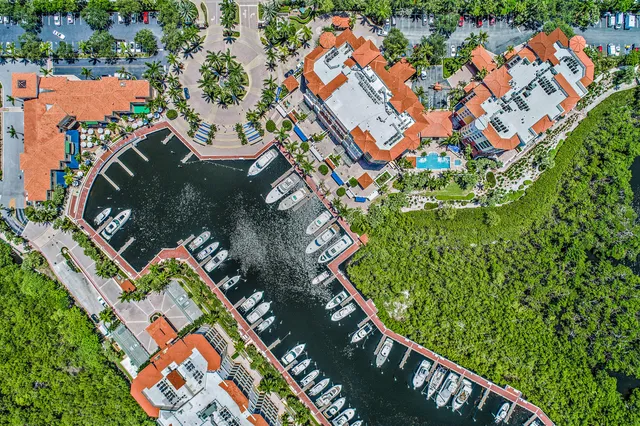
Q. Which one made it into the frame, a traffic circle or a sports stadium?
traffic circle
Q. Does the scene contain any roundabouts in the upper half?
Yes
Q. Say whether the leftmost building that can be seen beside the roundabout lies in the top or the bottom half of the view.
top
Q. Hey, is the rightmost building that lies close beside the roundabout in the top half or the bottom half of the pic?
top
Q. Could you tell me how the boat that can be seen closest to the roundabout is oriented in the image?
diagonally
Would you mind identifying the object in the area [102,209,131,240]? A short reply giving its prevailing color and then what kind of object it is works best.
white boat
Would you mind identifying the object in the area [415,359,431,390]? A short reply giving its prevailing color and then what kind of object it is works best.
white boat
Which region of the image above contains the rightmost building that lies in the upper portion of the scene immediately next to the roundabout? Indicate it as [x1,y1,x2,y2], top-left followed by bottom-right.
[297,29,429,164]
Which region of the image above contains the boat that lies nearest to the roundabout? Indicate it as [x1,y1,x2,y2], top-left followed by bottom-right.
[247,148,279,176]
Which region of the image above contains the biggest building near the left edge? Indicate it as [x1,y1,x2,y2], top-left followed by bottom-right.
[12,73,152,201]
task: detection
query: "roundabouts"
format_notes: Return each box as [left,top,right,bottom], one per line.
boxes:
[178,35,270,127]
